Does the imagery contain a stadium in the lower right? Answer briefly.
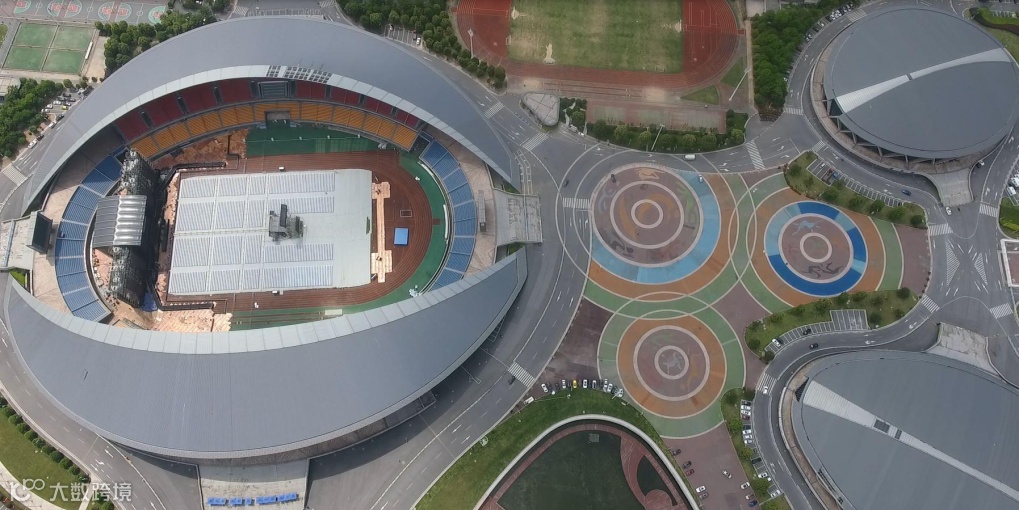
Yes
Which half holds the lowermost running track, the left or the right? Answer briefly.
left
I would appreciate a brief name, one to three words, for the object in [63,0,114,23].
basketball court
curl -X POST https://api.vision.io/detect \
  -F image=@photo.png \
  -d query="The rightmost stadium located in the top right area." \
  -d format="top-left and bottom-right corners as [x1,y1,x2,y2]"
[807,7,1019,209]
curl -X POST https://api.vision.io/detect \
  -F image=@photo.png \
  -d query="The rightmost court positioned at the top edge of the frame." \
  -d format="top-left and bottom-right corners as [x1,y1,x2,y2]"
[113,0,164,25]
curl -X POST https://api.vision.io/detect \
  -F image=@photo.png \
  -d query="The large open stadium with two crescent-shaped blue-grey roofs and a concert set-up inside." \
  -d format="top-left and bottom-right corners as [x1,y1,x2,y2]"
[0,15,543,510]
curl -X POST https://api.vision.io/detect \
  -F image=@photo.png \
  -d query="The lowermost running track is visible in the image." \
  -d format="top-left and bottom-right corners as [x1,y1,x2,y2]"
[84,123,449,330]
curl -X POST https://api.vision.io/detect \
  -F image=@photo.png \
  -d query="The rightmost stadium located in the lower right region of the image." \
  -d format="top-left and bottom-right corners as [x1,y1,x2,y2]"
[777,323,1019,510]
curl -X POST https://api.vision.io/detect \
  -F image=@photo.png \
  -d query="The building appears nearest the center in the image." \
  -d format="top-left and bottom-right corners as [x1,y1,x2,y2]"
[524,92,560,128]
